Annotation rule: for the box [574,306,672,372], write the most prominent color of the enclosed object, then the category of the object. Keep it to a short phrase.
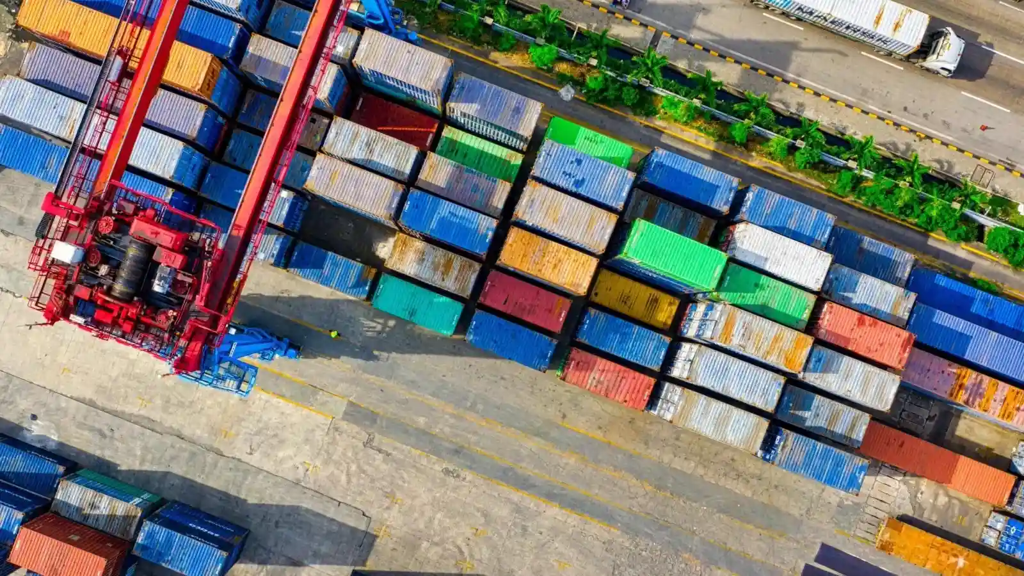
blue shipping container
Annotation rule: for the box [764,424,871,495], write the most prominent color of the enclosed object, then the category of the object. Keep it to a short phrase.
blue shipping container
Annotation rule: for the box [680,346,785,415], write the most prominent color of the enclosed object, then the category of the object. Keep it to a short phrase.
white shipping container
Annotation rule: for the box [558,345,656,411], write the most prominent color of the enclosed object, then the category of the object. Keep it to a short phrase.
red shipping container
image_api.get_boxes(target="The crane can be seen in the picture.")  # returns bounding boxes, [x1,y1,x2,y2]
[12,0,430,406]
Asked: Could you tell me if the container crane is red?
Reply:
Yes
